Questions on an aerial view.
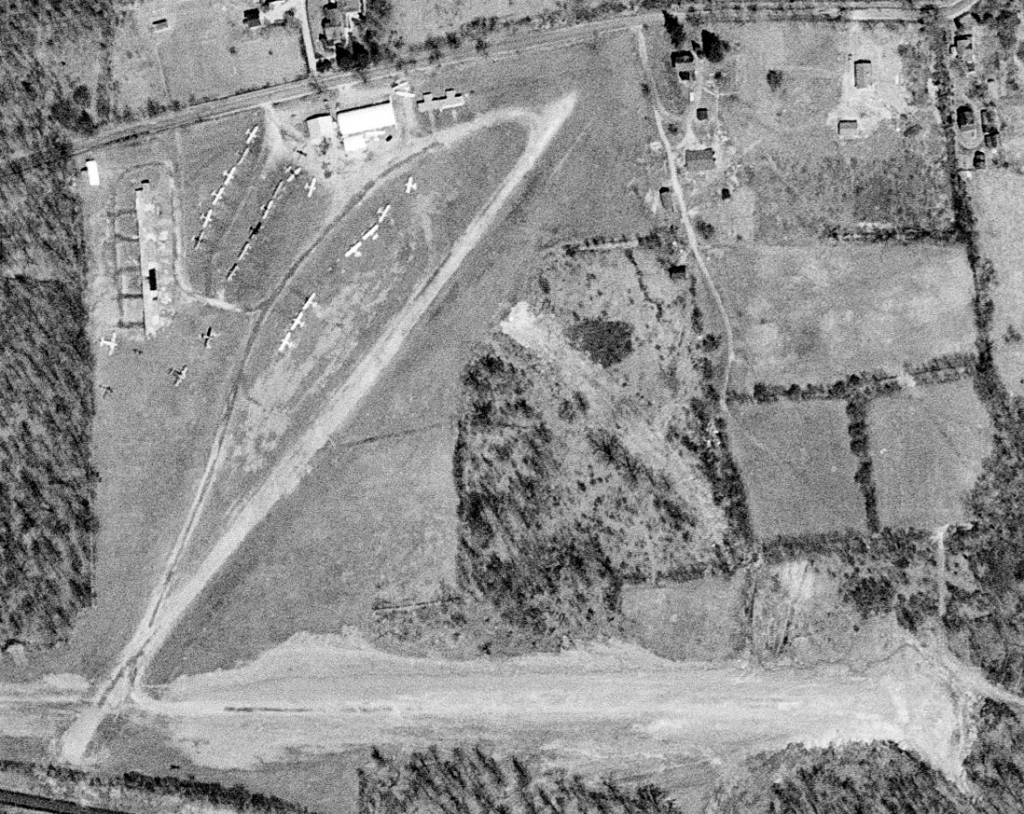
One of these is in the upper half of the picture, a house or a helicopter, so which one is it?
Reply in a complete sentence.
Visible in the upper half of the picture is a house.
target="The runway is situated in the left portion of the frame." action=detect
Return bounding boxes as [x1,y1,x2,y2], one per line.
[62,91,576,763]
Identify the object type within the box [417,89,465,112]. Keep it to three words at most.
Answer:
building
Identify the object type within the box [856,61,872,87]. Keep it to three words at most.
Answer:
house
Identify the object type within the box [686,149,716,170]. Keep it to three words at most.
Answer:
barn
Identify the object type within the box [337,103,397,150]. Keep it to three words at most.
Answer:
hangar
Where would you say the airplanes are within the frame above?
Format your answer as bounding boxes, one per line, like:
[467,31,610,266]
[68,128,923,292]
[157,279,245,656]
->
[291,312,305,330]
[296,146,306,160]
[200,209,212,227]
[261,201,273,218]
[99,383,111,396]
[211,188,223,204]
[191,232,204,249]
[377,205,390,222]
[234,148,248,164]
[362,225,378,239]
[345,241,361,257]
[100,333,116,355]
[238,243,251,260]
[405,177,417,192]
[223,167,235,184]
[245,126,258,143]
[279,333,293,351]
[248,222,261,237]
[273,181,286,198]
[167,366,187,386]
[227,264,240,279]
[285,165,302,181]
[304,178,316,197]
[302,293,317,309]
[200,328,212,346]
